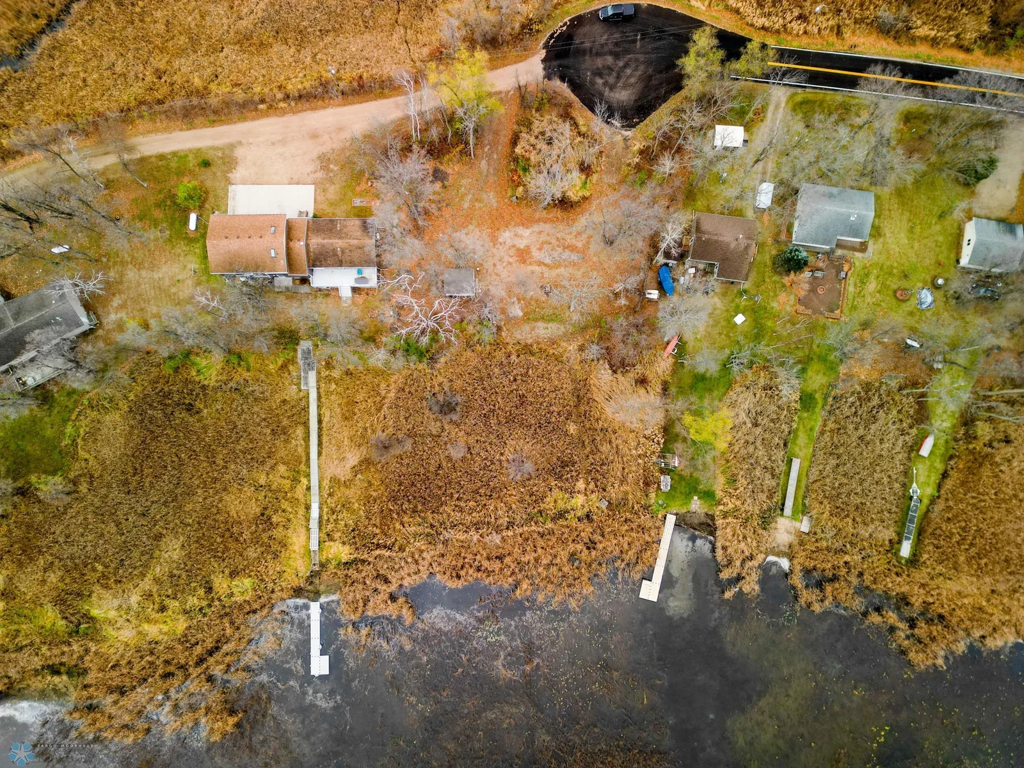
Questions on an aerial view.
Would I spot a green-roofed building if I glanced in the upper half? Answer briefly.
No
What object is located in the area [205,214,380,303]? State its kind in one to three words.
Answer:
house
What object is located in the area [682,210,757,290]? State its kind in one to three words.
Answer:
house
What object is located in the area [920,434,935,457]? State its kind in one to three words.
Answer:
boat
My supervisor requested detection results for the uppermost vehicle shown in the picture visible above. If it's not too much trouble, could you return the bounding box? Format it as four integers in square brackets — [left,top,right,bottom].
[600,3,636,21]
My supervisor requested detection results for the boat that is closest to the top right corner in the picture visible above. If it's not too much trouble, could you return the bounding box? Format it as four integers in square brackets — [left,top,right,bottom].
[906,335,921,348]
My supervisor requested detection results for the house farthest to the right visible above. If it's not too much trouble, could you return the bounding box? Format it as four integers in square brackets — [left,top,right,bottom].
[956,217,1024,274]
